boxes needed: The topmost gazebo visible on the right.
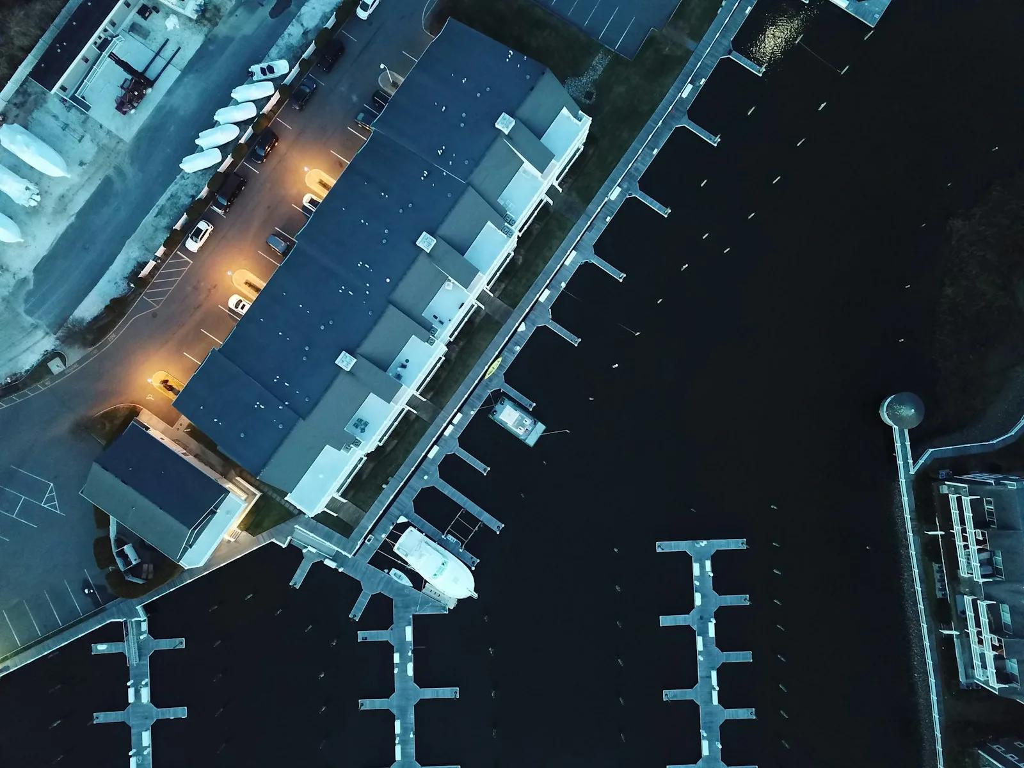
[879,392,928,431]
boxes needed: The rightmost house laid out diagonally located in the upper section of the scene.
[171,17,591,517]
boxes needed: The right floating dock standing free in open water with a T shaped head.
[655,538,759,768]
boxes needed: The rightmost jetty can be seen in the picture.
[822,0,892,30]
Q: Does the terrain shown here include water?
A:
Yes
